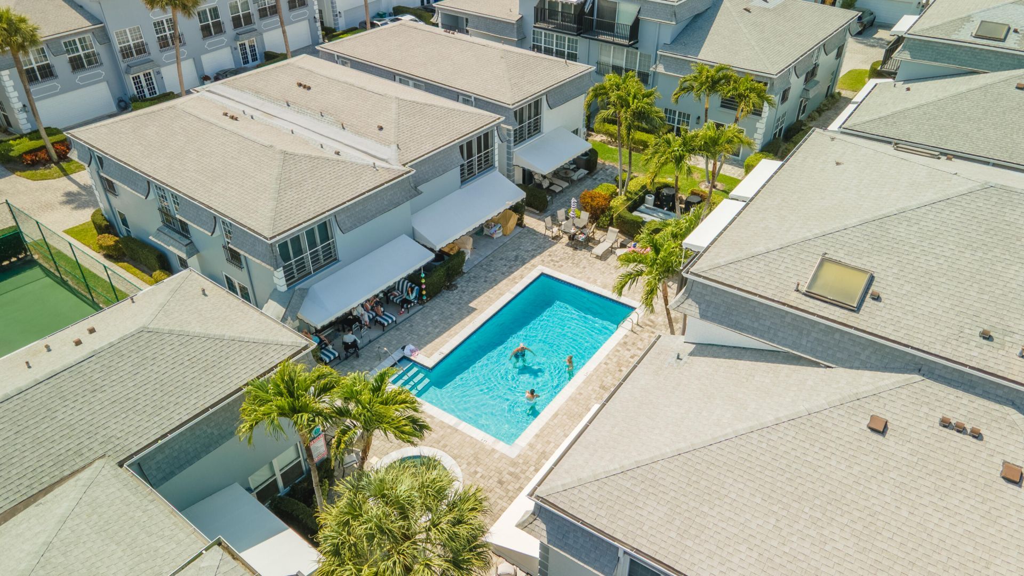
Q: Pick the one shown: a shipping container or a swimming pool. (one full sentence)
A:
The one in the frame is a swimming pool.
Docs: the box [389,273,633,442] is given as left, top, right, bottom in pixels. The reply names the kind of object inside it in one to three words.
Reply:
swimming pool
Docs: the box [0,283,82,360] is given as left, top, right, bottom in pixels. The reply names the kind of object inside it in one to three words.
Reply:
tennis court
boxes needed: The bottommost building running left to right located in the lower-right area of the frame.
[493,332,1024,576]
